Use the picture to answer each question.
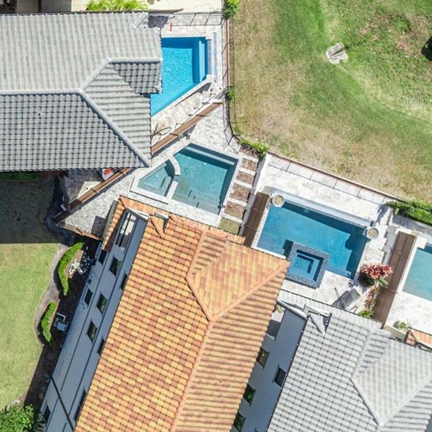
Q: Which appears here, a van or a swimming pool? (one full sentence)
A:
It is a swimming pool that can be seen here.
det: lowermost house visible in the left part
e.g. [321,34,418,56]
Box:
[34,194,291,432]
